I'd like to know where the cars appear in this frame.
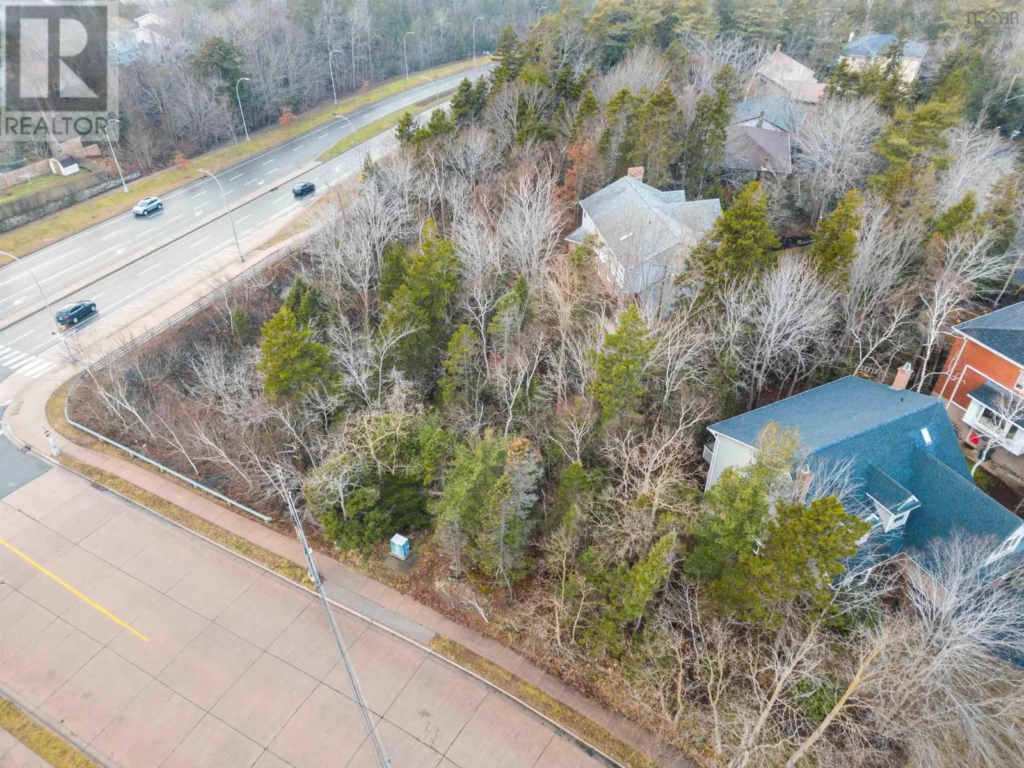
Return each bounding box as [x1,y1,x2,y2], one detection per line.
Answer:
[53,304,99,329]
[289,184,316,200]
[131,197,164,218]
